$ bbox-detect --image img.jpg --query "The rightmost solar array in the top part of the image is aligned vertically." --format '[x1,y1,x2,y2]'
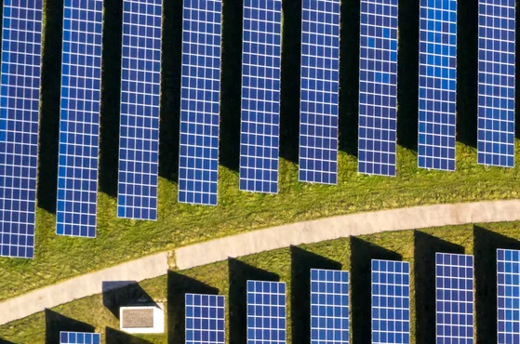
[477,0,515,169]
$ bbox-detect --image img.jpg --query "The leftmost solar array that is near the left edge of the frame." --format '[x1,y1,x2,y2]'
[0,0,43,259]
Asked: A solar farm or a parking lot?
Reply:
solar farm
